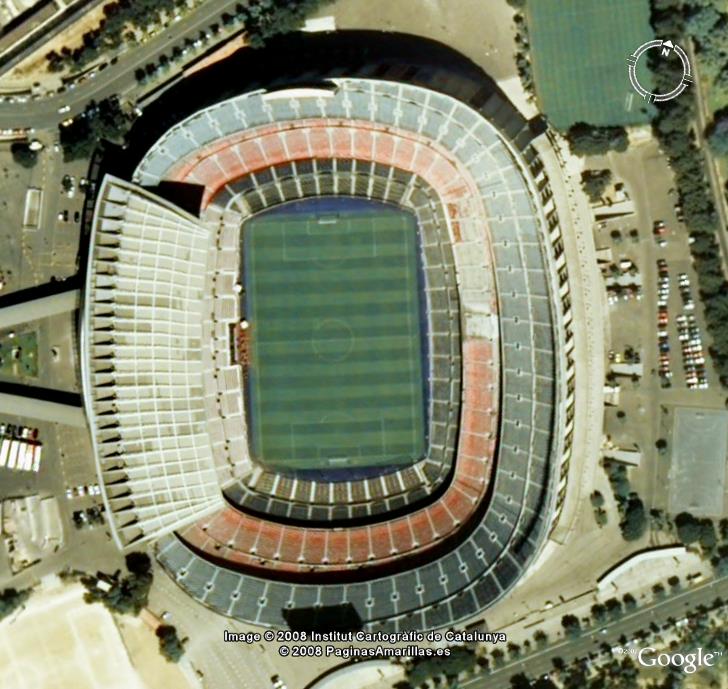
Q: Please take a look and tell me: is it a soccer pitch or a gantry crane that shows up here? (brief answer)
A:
soccer pitch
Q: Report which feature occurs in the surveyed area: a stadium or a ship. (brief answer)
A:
stadium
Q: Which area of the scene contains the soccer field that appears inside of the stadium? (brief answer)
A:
center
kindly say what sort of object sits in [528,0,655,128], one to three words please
sports field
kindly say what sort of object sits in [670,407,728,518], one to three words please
sports court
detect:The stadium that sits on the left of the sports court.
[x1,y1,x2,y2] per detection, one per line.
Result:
[74,63,583,646]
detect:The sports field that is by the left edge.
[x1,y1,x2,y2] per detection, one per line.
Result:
[0,590,140,689]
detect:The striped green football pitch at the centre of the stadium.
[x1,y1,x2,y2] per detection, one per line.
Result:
[250,210,424,469]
